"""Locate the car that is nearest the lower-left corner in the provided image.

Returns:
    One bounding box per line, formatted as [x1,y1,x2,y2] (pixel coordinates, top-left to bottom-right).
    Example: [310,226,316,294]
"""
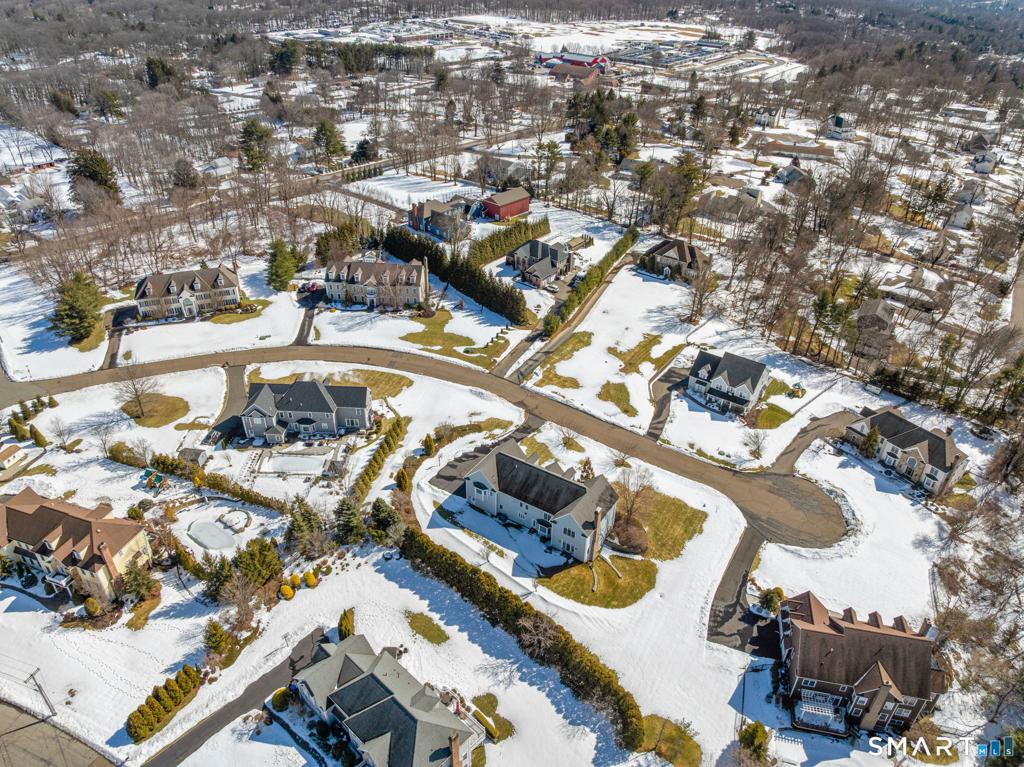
[199,426,217,444]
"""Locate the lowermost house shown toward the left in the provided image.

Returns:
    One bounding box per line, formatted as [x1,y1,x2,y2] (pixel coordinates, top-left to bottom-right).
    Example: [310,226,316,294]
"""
[292,627,490,767]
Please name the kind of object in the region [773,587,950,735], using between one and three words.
house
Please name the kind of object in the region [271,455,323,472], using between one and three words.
swimming pool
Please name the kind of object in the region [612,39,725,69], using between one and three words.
building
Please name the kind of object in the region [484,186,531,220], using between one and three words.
barn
